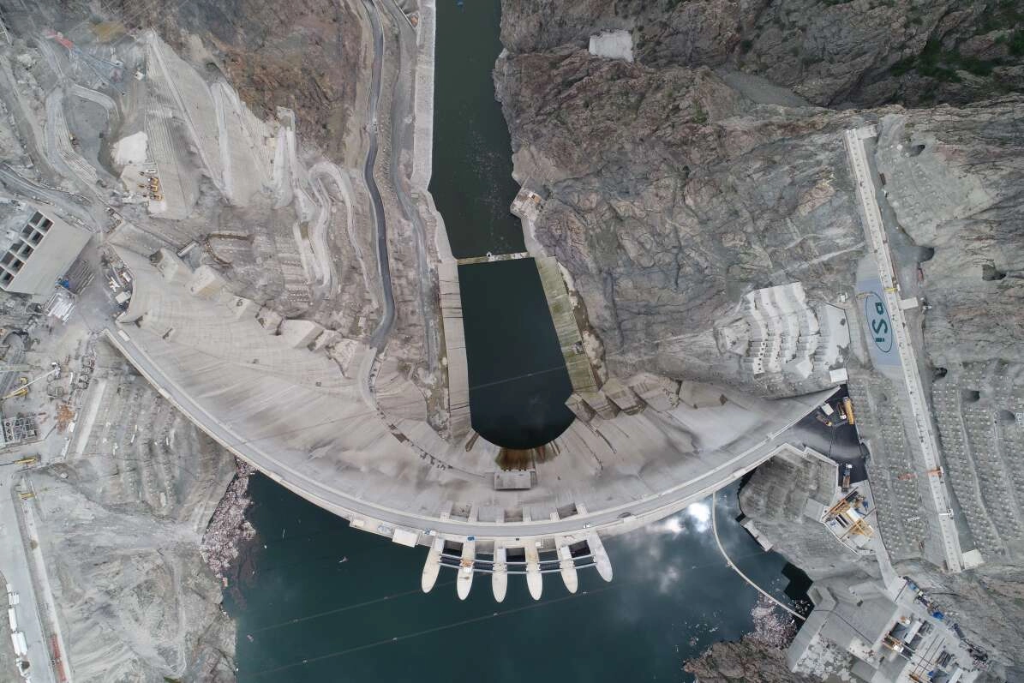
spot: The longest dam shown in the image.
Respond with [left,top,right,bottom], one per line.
[105,245,841,602]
